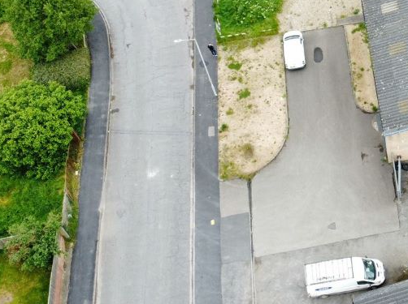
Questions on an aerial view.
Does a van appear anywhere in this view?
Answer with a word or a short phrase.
Yes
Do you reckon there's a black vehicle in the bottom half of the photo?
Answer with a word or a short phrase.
No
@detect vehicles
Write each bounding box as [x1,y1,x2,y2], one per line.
[282,32,307,72]
[304,253,383,297]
